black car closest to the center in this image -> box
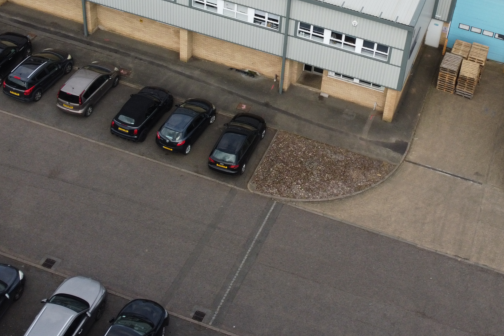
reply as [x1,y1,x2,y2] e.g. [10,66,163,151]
[204,113,267,177]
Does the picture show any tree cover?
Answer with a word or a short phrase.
No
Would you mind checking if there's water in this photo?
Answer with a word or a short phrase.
No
